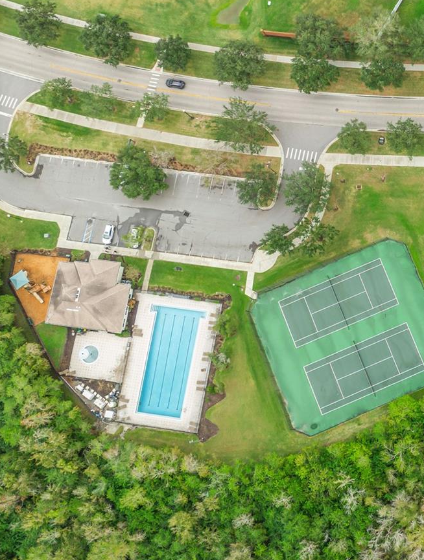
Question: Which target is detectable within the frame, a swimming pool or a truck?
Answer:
swimming pool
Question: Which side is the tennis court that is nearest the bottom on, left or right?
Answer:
right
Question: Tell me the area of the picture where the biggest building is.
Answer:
left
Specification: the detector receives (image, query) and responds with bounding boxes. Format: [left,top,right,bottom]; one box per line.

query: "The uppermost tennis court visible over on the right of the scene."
[278,258,399,347]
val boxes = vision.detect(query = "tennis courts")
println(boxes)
[278,258,399,347]
[304,322,424,415]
